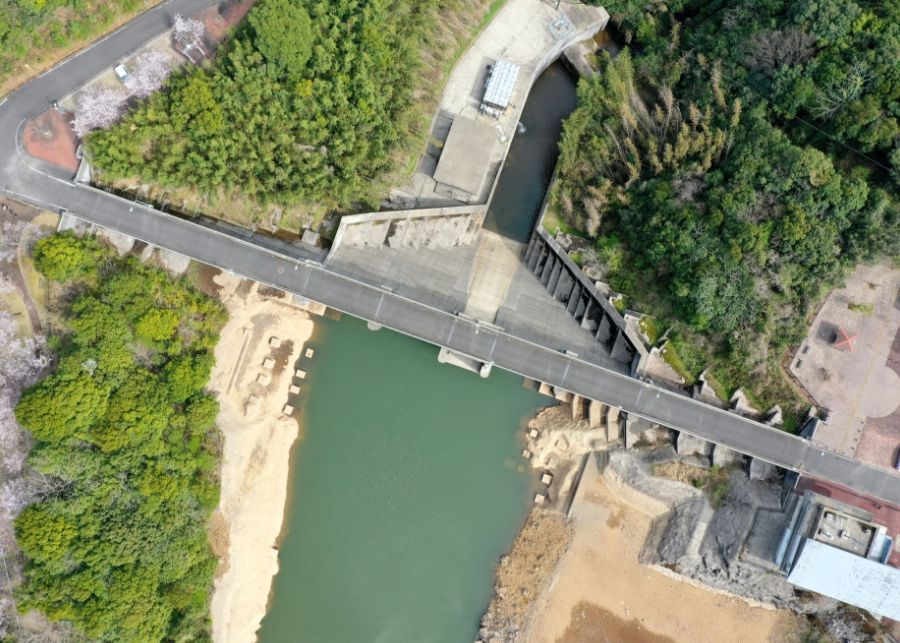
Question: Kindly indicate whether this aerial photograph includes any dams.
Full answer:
Yes, the frame does contain a dam.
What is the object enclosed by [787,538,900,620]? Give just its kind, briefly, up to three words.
building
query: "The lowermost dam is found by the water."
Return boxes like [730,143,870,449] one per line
[77,210,782,477]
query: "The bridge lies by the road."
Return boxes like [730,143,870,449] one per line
[66,183,813,473]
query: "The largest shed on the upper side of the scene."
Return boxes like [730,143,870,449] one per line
[434,115,497,206]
